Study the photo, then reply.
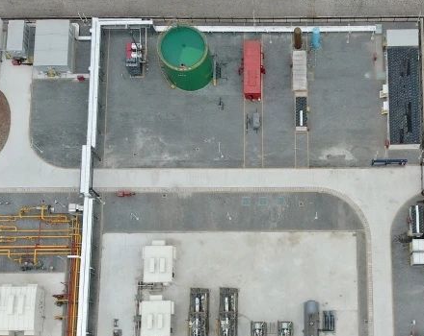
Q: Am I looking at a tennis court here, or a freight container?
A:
freight container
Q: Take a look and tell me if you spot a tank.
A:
Yes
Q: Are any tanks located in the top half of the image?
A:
Yes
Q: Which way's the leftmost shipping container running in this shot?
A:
up and down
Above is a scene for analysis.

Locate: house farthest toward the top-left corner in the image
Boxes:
[5,20,33,60]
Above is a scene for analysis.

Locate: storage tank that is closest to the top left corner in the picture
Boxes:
[155,20,217,90]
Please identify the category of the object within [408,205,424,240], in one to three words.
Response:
shed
